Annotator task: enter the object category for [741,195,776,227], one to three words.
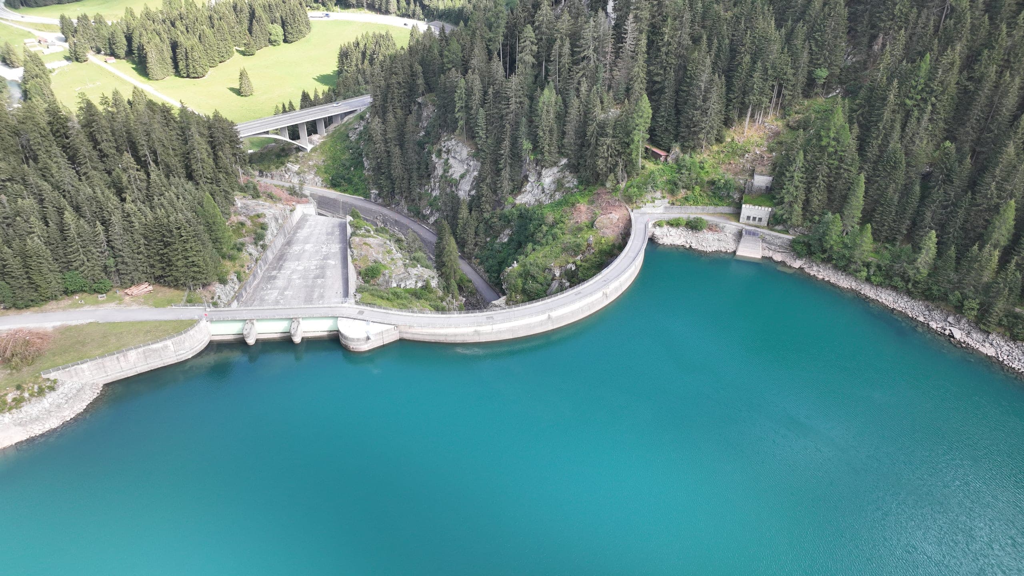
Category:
building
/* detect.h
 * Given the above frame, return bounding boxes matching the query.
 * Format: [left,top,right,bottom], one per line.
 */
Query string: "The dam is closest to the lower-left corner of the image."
[205,301,355,346]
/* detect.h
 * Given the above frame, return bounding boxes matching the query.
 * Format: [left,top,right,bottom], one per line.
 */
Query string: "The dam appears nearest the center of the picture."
[348,210,655,345]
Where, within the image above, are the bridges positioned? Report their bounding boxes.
[224,89,376,152]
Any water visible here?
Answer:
Yes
